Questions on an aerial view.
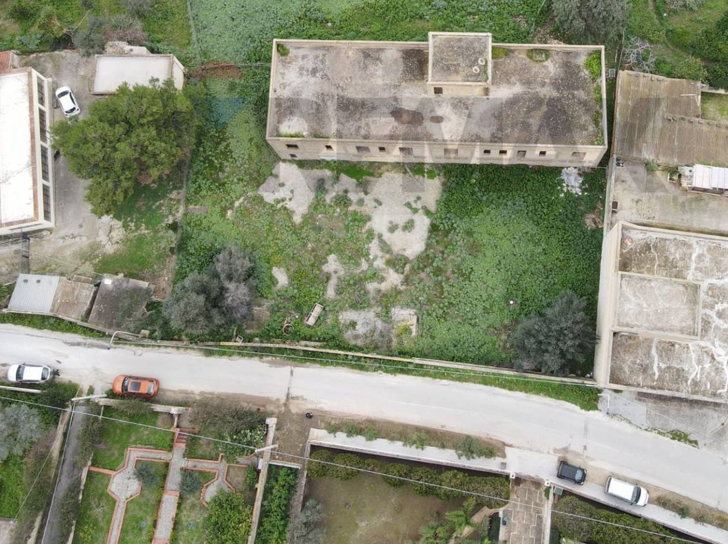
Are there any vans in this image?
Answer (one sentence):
Yes, the photo shows a van.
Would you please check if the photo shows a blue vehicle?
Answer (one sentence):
No, this view has no blue vehicle in it.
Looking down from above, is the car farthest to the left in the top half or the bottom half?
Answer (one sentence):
You can find the car farthest to the left in the bottom half.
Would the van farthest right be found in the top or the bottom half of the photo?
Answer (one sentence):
The van farthest right is in the bottom half of the image.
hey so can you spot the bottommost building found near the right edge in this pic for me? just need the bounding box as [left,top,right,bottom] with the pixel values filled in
[595,222,728,405]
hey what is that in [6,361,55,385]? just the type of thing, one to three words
car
